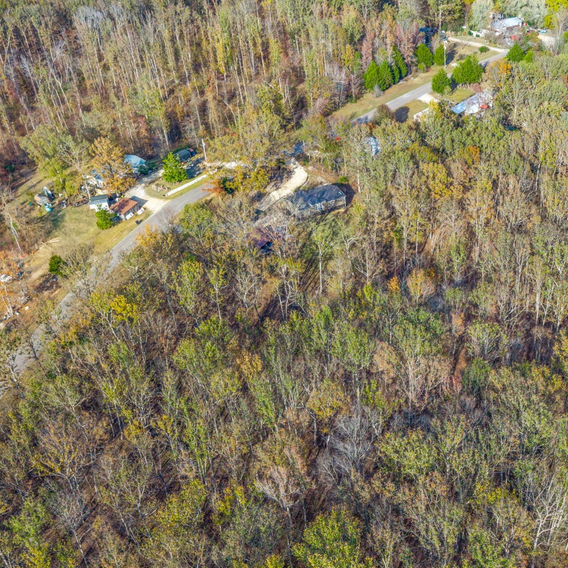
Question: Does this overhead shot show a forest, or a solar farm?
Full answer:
The area seen from above is a forest.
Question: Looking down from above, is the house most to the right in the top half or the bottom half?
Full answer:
The top half of the photo is where the house most to the right is.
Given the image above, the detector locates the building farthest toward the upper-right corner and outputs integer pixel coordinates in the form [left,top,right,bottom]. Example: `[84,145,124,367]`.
[475,12,526,39]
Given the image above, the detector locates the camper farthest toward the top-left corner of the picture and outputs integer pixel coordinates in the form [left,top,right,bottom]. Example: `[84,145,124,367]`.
[34,192,52,204]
